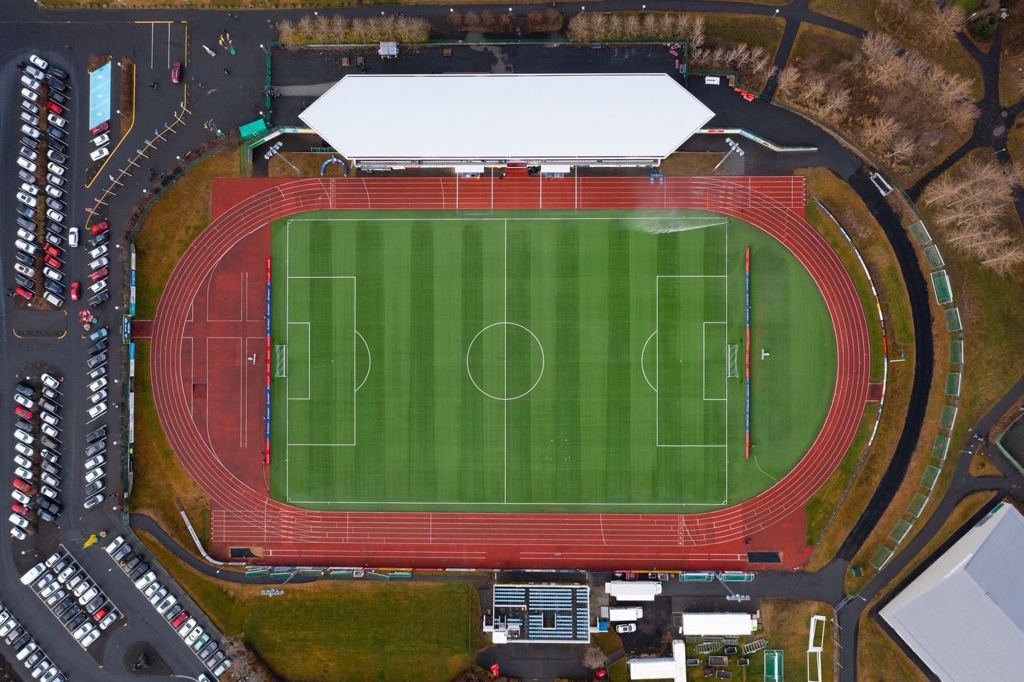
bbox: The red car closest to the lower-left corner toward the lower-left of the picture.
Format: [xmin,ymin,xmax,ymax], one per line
[93,607,108,622]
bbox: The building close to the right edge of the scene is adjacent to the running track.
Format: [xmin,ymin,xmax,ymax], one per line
[879,502,1024,682]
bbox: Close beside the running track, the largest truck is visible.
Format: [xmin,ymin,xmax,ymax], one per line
[604,577,660,601]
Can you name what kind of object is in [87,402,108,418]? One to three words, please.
car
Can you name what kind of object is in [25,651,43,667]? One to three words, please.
car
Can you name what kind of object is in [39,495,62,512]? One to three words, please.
vehicle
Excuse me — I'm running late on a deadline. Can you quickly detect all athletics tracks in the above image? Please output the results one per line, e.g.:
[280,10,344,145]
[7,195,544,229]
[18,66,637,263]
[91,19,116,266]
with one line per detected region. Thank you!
[131,175,882,571]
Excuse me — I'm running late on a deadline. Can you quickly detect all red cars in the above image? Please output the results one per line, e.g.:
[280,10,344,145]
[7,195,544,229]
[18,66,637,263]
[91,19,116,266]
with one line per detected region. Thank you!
[90,222,109,236]
[15,405,33,419]
[12,478,30,492]
[16,286,34,299]
[90,267,109,281]
[44,254,64,269]
[171,612,188,628]
[70,281,81,301]
[11,502,28,514]
[47,101,65,114]
[91,122,109,135]
[93,607,108,622]
[171,62,182,83]
[44,243,62,257]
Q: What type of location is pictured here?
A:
sports ground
